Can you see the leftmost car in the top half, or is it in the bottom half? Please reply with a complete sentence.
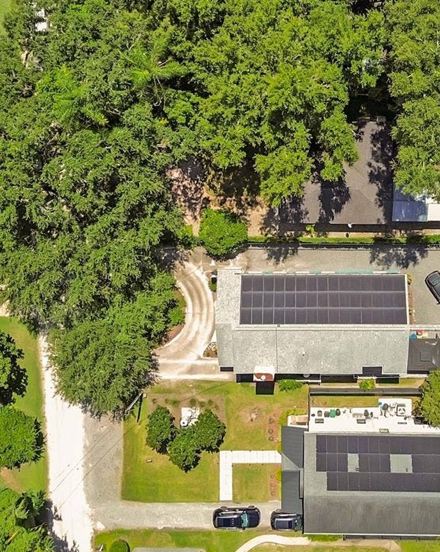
Seen from above, the leftmost car lies in the bottom half of the view.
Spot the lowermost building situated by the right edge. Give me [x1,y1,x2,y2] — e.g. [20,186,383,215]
[282,417,440,535]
